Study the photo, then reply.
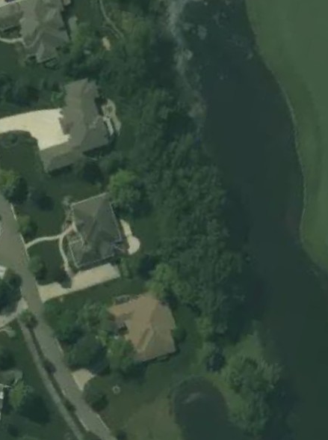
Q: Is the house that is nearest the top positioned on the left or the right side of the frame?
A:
left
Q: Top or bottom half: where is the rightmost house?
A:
bottom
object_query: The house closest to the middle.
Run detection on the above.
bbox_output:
[69,193,127,271]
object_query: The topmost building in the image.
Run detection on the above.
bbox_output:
[0,0,74,63]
